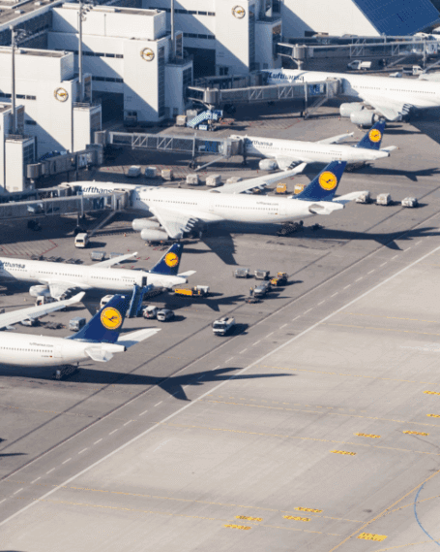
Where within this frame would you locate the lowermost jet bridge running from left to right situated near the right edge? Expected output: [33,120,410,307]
[270,35,437,69]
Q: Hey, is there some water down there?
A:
No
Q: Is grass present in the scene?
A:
No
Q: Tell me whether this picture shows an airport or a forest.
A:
airport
